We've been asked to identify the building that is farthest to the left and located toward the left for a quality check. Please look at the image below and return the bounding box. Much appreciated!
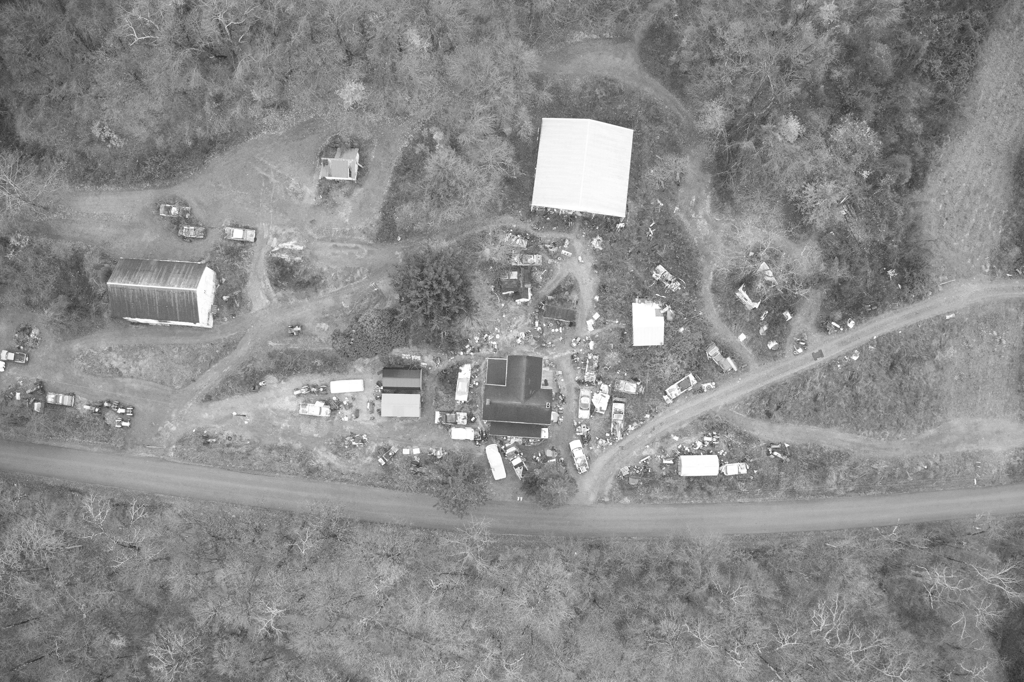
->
[107,259,228,326]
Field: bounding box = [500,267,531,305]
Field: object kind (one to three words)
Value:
shed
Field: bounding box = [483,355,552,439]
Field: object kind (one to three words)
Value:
house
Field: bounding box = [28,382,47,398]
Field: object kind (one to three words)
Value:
work vehicle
